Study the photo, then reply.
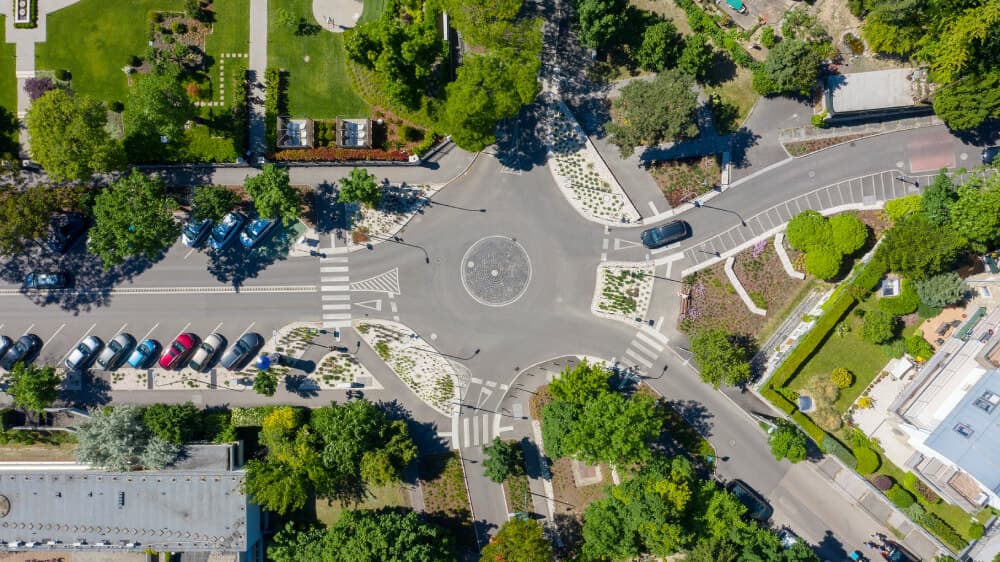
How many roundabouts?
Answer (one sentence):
The photo contains exactly 1 roundabout.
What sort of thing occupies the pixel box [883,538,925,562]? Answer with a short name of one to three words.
car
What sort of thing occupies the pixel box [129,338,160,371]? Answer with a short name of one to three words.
car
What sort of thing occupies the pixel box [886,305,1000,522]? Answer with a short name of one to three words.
house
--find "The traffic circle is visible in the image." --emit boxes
[398,156,627,387]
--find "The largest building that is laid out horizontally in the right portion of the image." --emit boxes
[818,68,918,117]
